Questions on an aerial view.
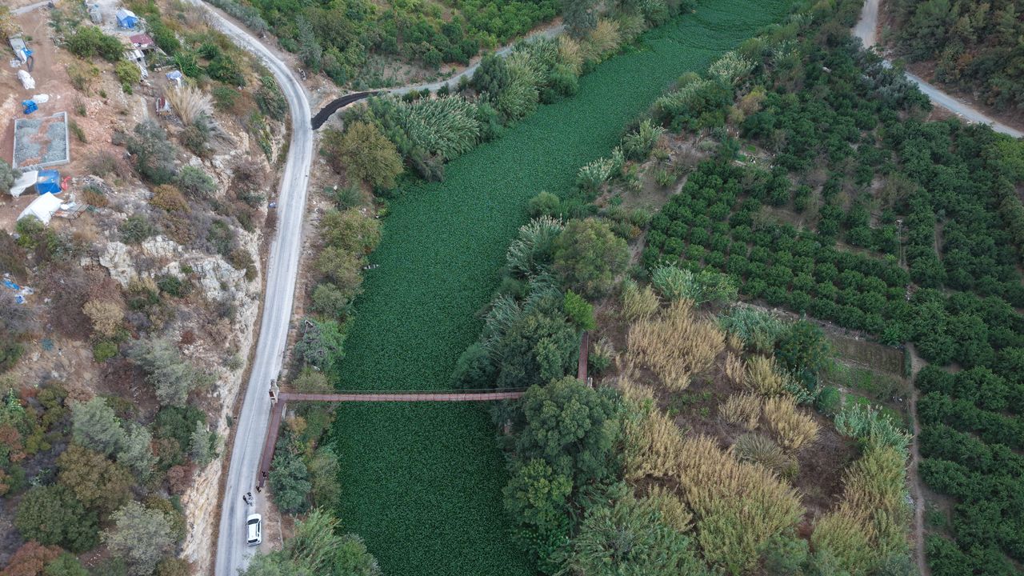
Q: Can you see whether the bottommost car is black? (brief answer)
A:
No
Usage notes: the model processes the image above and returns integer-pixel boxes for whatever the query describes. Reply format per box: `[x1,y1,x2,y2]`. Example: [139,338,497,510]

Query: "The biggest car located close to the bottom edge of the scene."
[244,513,265,548]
